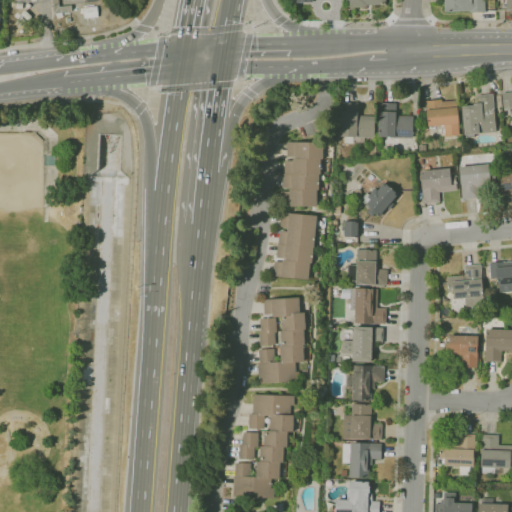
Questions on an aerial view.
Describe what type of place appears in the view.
residential area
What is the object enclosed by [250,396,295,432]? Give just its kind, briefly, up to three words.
building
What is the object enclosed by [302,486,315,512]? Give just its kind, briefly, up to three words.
swimming pool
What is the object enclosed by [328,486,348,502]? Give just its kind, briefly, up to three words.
swimming pool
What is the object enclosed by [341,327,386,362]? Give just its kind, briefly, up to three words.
house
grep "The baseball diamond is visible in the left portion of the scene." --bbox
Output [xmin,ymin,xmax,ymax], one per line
[0,128,58,222]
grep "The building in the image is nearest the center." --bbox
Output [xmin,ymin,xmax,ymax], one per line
[276,214,316,279]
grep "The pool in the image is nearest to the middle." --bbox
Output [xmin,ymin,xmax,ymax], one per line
[338,250,354,268]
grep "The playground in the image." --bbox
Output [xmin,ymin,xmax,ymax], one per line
[0,410,48,492]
